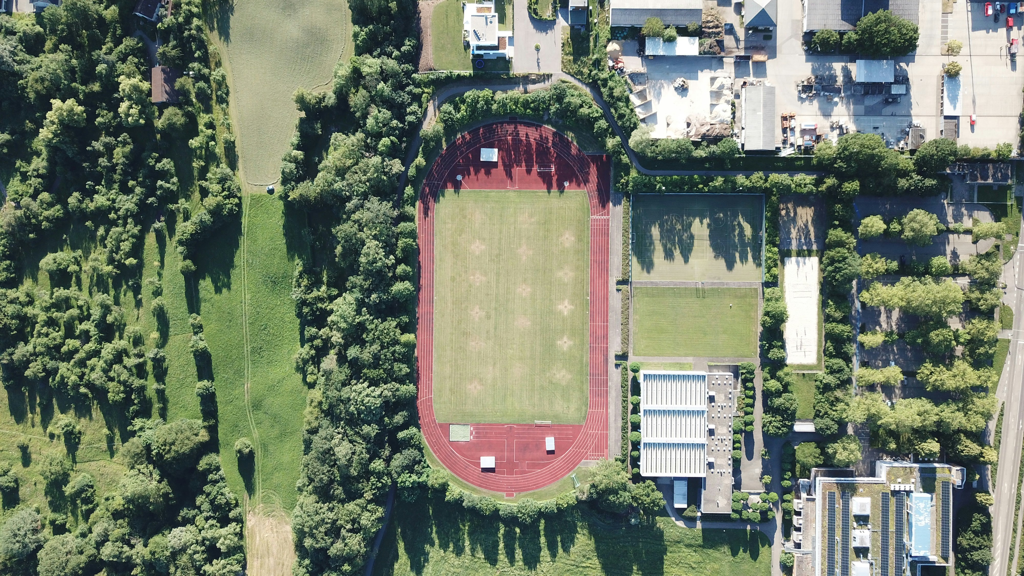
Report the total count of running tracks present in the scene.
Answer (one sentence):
Just 1 running track appears in this view.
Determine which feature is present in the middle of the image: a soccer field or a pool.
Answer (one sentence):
The one visible in the middle of the image is a soccer field.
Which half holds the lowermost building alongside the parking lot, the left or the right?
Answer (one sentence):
The lowermost building alongside the parking lot appears in the right half of the scene.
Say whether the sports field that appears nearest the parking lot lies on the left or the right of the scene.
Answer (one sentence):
The sports field that appears nearest the parking lot sits on the right side.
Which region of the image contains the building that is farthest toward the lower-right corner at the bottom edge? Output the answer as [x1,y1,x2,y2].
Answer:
[785,452,966,576]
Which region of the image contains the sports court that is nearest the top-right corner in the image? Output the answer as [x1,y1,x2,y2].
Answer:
[779,197,824,249]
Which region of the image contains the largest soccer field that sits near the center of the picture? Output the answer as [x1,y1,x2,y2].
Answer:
[433,189,591,424]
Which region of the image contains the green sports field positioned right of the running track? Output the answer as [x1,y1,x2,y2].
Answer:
[633,287,758,357]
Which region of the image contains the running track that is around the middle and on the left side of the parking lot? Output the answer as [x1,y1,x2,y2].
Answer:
[416,119,611,498]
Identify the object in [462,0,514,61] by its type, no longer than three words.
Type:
house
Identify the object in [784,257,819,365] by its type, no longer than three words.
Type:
sports court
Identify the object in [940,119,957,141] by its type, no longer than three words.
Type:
shed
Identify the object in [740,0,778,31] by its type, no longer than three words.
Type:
building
